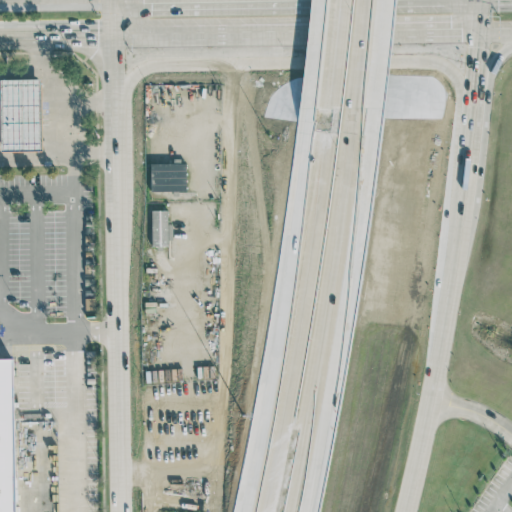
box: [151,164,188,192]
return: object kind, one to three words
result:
building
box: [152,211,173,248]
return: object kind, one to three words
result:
barn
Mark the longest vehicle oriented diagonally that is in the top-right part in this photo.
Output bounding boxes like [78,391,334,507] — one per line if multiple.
[490,50,506,74]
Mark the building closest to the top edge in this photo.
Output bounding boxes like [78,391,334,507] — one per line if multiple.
[0,80,42,153]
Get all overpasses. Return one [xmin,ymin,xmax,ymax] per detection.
[300,0,396,108]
